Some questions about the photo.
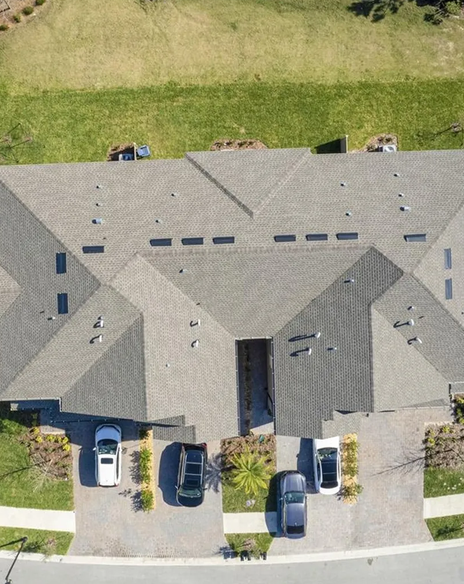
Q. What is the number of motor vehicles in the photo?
4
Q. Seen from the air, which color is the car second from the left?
black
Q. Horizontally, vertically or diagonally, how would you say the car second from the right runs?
vertically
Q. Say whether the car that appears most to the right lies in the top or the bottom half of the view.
bottom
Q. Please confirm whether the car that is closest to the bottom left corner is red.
No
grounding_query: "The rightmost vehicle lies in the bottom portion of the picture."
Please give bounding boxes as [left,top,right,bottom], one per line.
[310,437,342,495]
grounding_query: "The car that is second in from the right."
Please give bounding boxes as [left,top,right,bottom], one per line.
[277,468,309,539]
